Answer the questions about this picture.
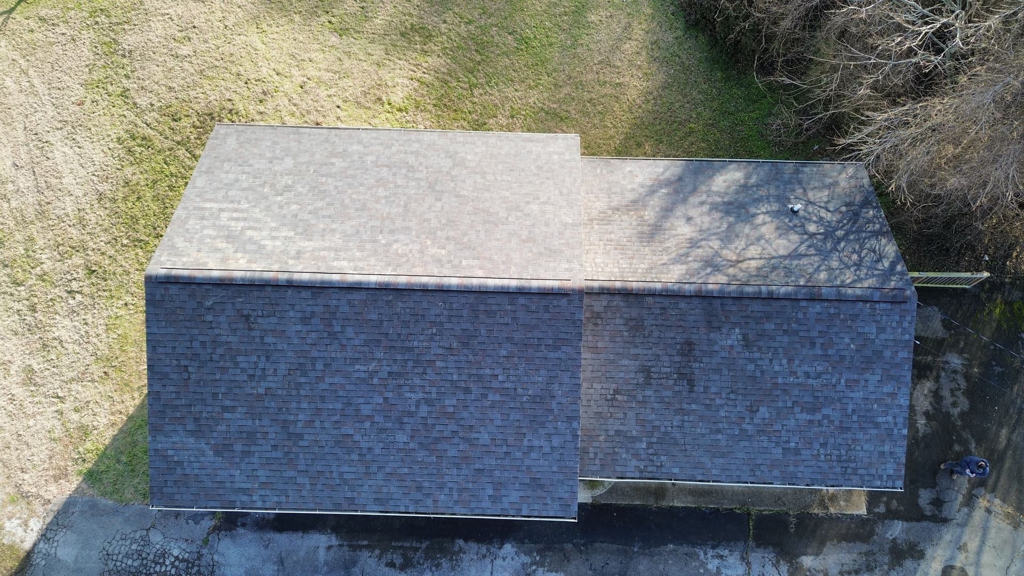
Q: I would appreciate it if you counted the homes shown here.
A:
1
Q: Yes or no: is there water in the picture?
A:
No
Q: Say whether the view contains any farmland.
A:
No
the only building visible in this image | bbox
[145,122,918,523]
